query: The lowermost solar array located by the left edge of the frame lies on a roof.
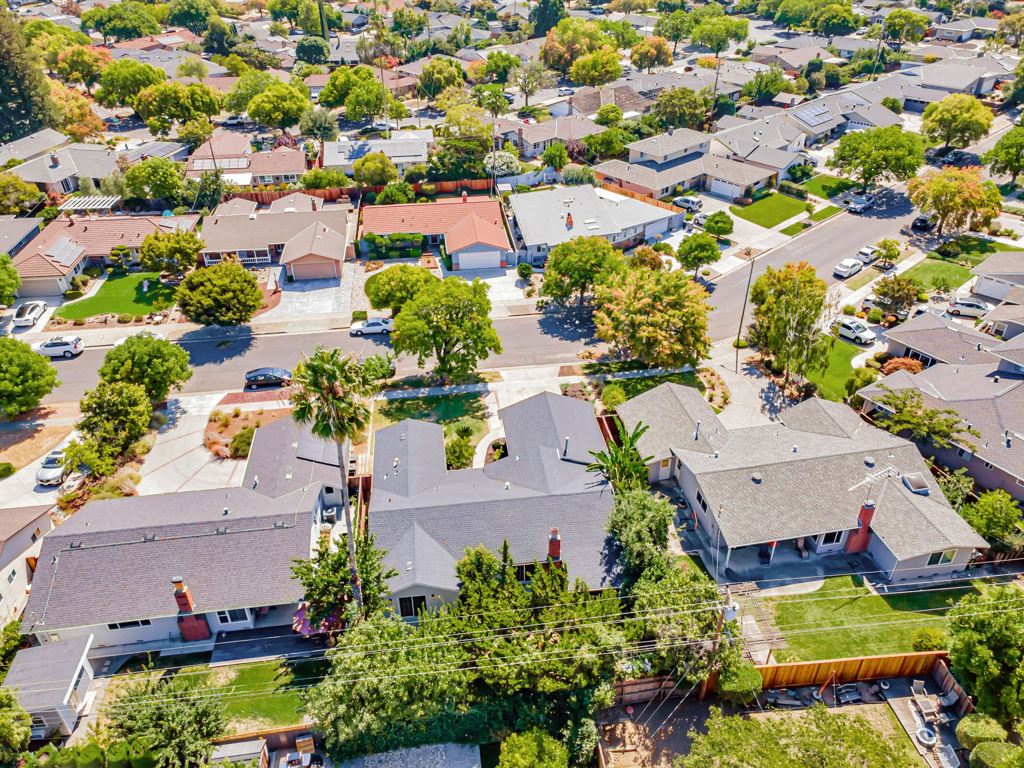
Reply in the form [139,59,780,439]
[47,243,81,267]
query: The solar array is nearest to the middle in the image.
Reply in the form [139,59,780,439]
[299,425,338,465]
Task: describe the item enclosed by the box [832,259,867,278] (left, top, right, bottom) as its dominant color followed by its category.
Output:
white car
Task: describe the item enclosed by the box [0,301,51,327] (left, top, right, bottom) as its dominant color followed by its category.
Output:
white car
